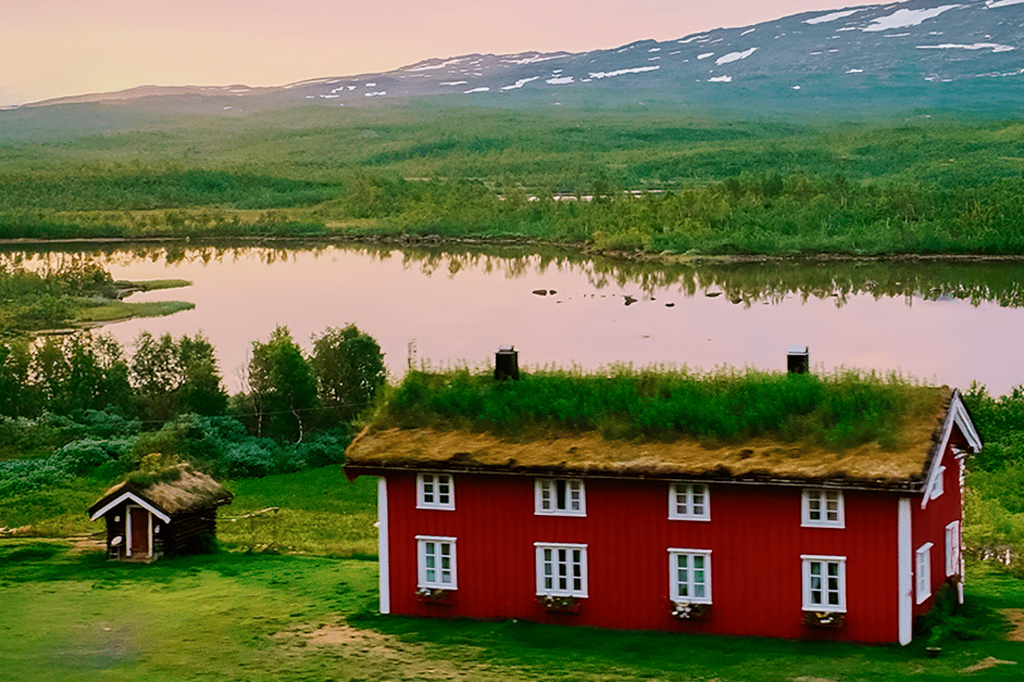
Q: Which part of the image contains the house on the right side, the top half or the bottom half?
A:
bottom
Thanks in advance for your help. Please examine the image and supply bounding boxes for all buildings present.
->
[339,341,988,643]
[86,453,237,566]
